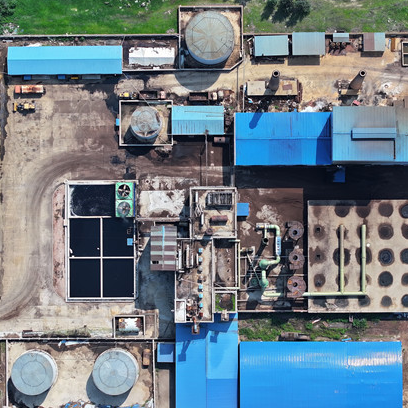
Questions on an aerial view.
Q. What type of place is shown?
industrial area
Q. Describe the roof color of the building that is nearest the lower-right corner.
blue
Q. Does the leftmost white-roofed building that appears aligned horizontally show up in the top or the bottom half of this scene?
top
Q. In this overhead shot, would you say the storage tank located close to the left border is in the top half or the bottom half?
bottom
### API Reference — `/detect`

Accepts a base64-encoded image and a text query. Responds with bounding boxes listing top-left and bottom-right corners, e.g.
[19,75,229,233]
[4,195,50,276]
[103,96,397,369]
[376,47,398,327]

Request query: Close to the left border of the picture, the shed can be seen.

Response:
[6,45,123,76]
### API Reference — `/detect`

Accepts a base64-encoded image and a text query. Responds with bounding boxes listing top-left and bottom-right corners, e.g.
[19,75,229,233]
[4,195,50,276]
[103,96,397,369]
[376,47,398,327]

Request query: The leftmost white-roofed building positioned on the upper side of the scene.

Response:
[127,47,176,66]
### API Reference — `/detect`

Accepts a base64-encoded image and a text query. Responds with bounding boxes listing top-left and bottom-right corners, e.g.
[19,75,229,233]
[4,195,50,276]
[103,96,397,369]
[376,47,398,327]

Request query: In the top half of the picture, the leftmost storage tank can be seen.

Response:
[131,106,166,141]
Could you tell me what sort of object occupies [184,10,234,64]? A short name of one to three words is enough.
storage tank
